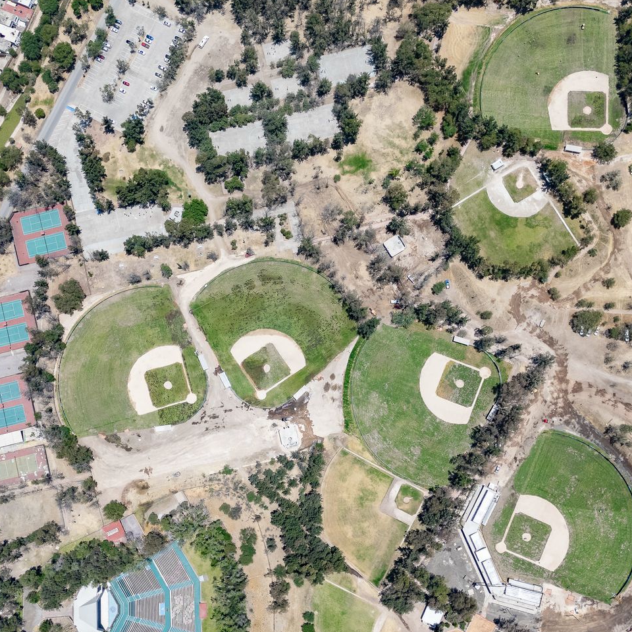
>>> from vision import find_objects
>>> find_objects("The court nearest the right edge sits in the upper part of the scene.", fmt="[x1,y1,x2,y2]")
[319,43,375,84]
